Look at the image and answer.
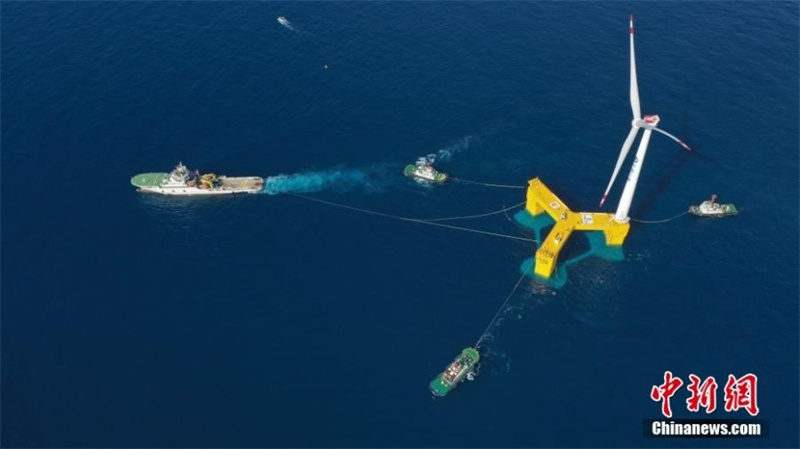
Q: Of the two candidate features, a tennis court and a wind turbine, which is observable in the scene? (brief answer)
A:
wind turbine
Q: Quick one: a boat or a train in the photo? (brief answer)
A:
boat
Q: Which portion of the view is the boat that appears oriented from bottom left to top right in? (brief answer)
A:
bottom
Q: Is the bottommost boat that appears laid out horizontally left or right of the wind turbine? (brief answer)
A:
on its right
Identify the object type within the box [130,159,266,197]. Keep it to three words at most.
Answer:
ship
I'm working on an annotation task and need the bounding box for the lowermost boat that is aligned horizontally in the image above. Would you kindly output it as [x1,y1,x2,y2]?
[689,198,741,221]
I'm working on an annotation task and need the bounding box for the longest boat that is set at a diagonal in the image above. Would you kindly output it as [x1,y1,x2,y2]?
[428,349,482,399]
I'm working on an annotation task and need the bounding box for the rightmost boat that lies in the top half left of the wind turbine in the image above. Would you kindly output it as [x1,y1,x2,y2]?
[402,162,450,187]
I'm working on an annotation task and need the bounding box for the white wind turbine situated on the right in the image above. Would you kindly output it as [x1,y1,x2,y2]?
[600,14,691,223]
